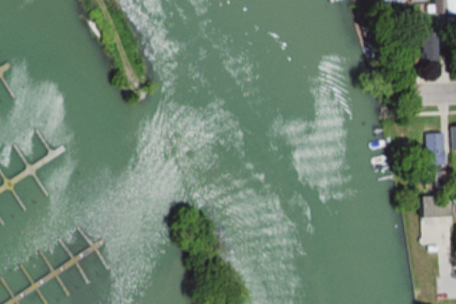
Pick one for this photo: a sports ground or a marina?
marina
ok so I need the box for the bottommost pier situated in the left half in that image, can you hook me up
[0,227,110,304]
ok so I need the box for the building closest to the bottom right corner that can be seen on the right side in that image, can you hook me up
[423,196,453,218]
